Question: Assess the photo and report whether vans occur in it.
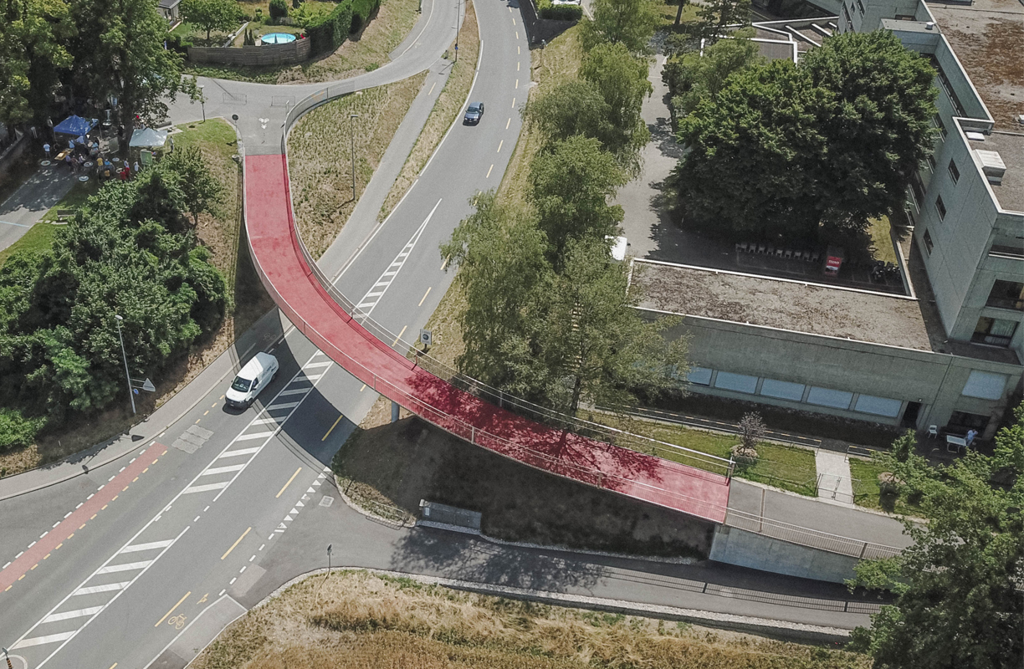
Yes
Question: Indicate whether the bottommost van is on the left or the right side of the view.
left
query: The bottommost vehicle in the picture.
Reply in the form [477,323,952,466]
[220,344,282,408]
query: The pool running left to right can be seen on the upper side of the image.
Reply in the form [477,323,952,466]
[258,32,299,48]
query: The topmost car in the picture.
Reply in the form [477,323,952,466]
[464,99,485,123]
